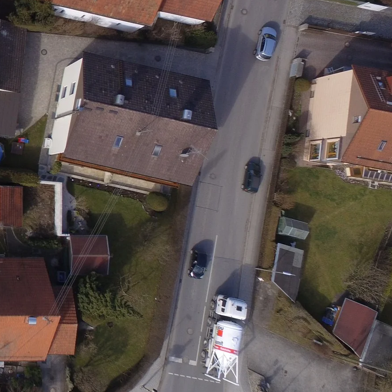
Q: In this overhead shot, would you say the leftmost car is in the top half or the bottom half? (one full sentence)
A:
The leftmost car sits in the bottom half of the picture.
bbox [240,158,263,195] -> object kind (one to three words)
car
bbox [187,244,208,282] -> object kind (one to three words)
car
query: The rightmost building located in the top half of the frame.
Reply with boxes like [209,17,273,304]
[308,65,392,196]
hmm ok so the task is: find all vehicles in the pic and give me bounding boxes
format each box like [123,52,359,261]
[254,26,277,61]
[187,244,208,282]
[240,158,263,195]
[201,296,246,392]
